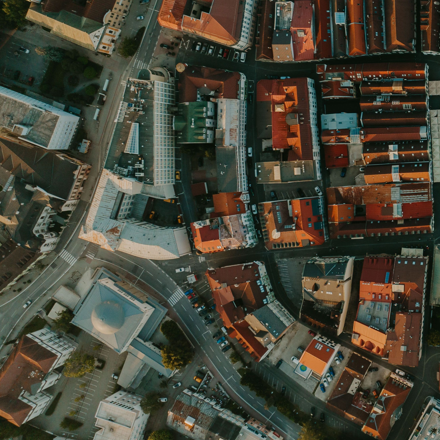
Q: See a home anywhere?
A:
Yes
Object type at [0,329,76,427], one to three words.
house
